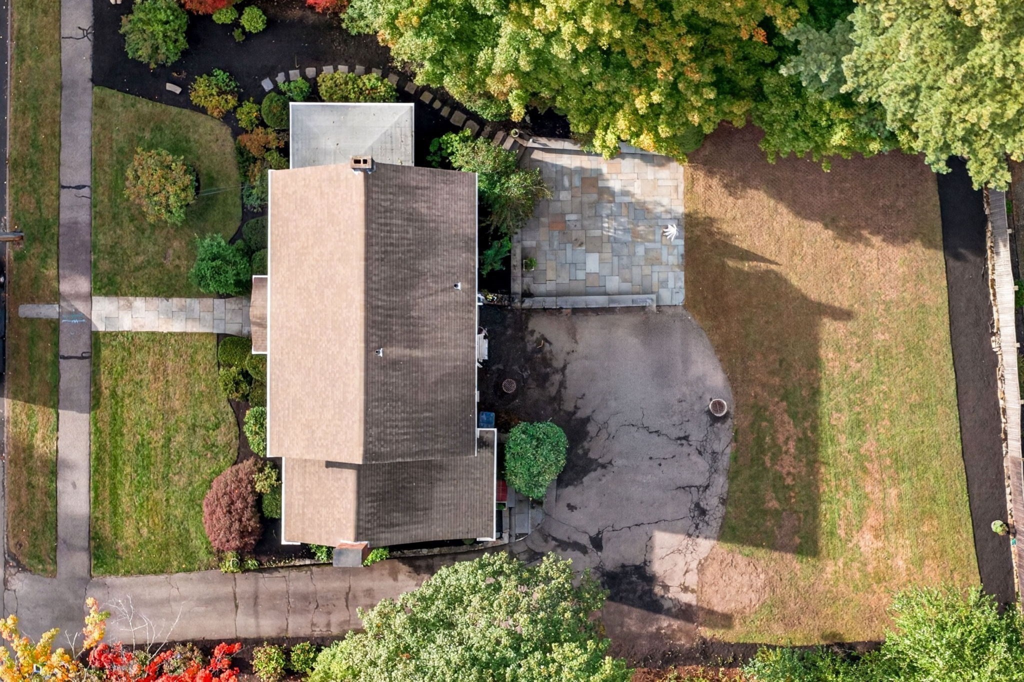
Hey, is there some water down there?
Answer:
No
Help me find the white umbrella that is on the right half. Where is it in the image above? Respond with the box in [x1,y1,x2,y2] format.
[663,225,681,240]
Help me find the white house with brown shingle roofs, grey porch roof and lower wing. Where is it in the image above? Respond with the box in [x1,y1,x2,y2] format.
[251,103,496,566]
